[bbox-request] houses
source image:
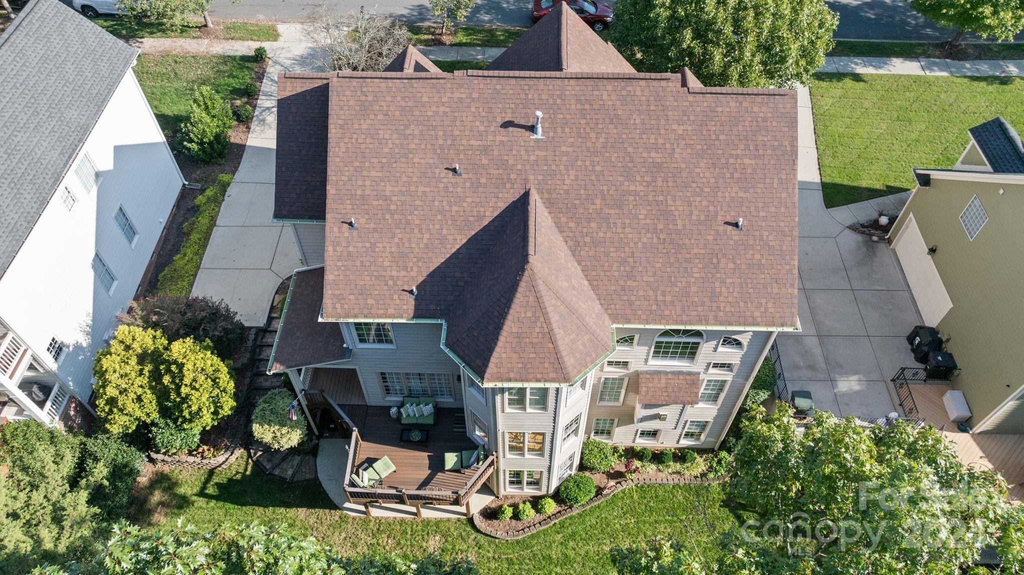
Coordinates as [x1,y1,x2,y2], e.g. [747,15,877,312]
[883,113,1024,434]
[0,0,198,434]
[265,0,800,499]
